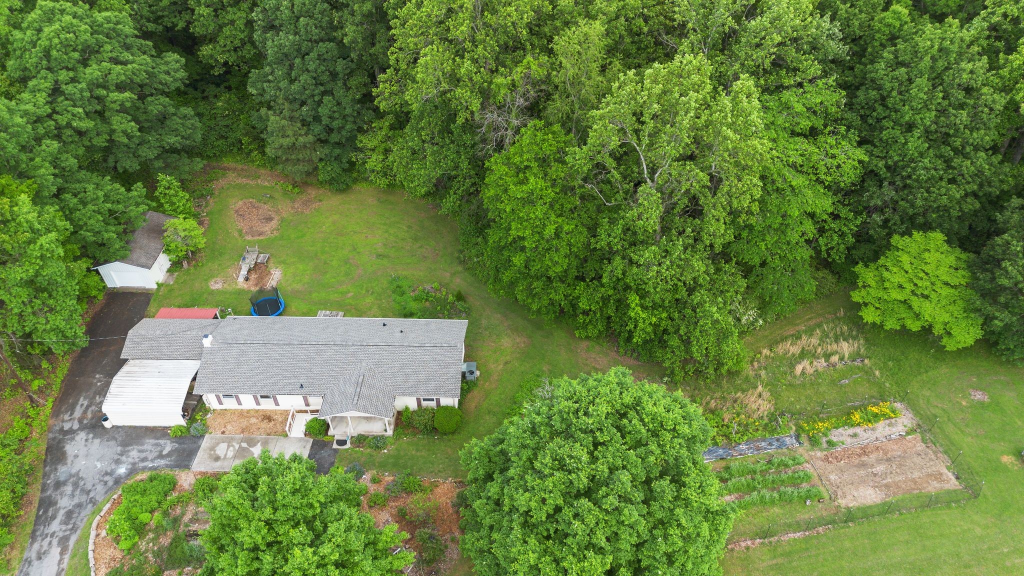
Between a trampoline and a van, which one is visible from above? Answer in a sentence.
This aerial view contains a trampoline.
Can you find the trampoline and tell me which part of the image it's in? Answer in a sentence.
The trampoline is located in the left region of the scene.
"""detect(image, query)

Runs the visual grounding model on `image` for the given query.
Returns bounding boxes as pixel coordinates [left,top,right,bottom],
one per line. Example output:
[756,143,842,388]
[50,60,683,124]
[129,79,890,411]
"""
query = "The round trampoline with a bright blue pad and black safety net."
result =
[242,283,286,315]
